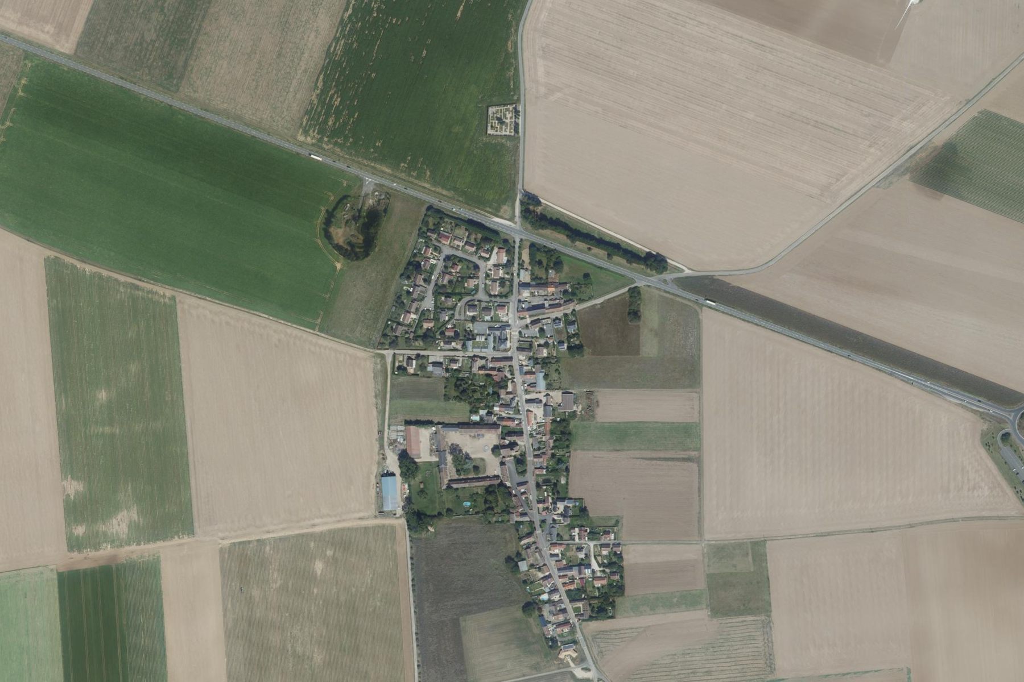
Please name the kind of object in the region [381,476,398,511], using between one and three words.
barn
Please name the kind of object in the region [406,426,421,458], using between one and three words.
barn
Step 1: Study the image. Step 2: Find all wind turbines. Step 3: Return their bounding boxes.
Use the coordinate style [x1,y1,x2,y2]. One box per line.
[896,0,917,32]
